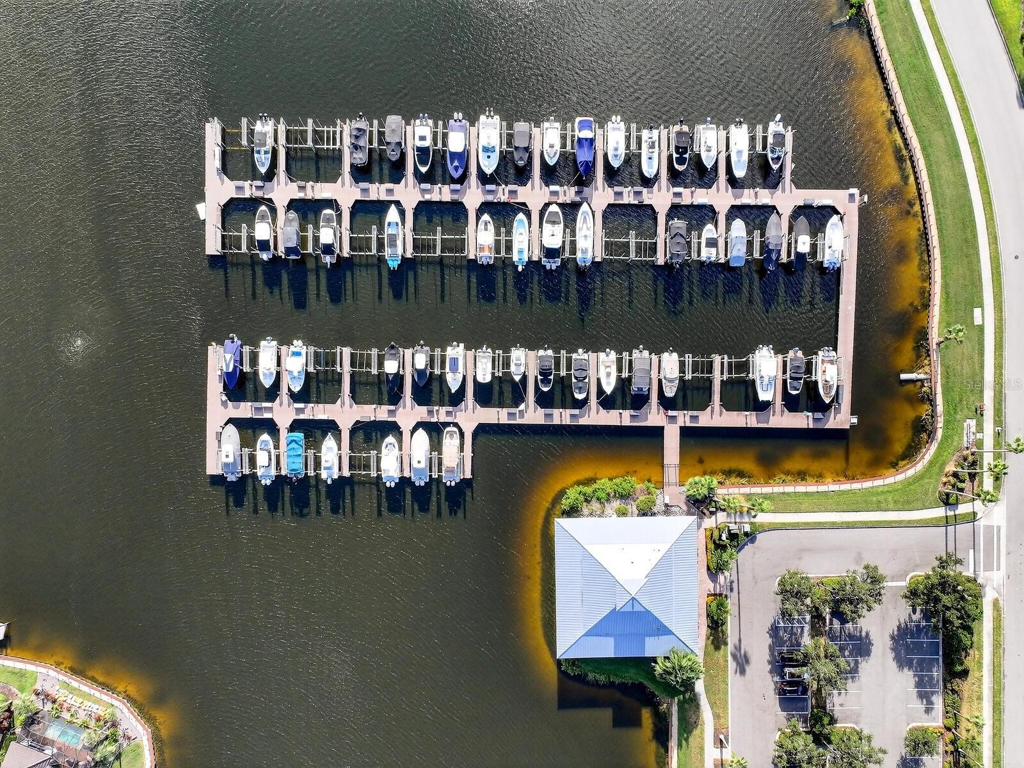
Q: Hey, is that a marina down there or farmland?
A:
marina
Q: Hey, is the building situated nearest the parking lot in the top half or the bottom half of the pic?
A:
bottom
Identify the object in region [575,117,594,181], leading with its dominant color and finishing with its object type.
blue boat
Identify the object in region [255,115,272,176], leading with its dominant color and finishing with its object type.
white boat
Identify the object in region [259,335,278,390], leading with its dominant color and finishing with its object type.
white boat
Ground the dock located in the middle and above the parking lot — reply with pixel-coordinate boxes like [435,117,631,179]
[203,121,862,487]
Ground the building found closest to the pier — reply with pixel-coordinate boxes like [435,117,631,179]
[554,513,700,659]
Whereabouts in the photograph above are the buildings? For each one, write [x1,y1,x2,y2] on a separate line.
[0,738,60,768]
[554,513,700,659]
